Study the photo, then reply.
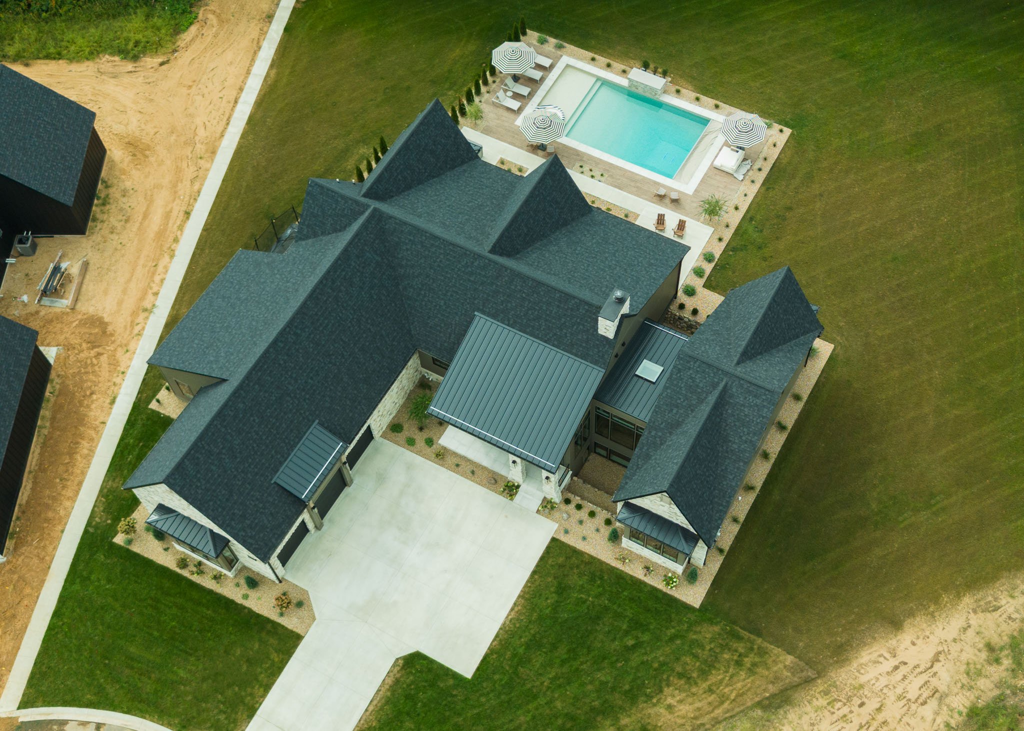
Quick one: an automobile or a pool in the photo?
pool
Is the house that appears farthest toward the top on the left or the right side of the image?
left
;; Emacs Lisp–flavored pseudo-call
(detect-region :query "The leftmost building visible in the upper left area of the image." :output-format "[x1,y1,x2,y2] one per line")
[0,70,107,291]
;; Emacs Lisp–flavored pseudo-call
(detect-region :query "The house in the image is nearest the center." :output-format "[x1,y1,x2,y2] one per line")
[122,99,825,584]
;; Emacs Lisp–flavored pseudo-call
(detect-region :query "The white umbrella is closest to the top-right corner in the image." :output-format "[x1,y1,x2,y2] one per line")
[721,111,767,151]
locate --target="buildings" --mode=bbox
[0,314,58,559]
[0,70,107,291]
[122,99,825,584]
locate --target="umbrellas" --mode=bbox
[721,111,767,151]
[519,110,564,152]
[494,42,536,83]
